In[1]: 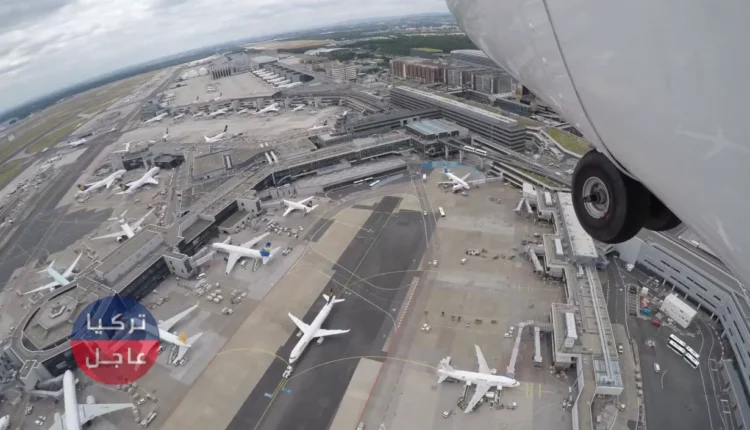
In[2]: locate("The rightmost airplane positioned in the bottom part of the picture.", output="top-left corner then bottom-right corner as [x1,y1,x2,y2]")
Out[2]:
[438,341,518,409]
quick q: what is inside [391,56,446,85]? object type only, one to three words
building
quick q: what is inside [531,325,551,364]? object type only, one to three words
jet bridge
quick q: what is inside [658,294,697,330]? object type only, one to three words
building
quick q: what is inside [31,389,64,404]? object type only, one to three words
jet bridge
